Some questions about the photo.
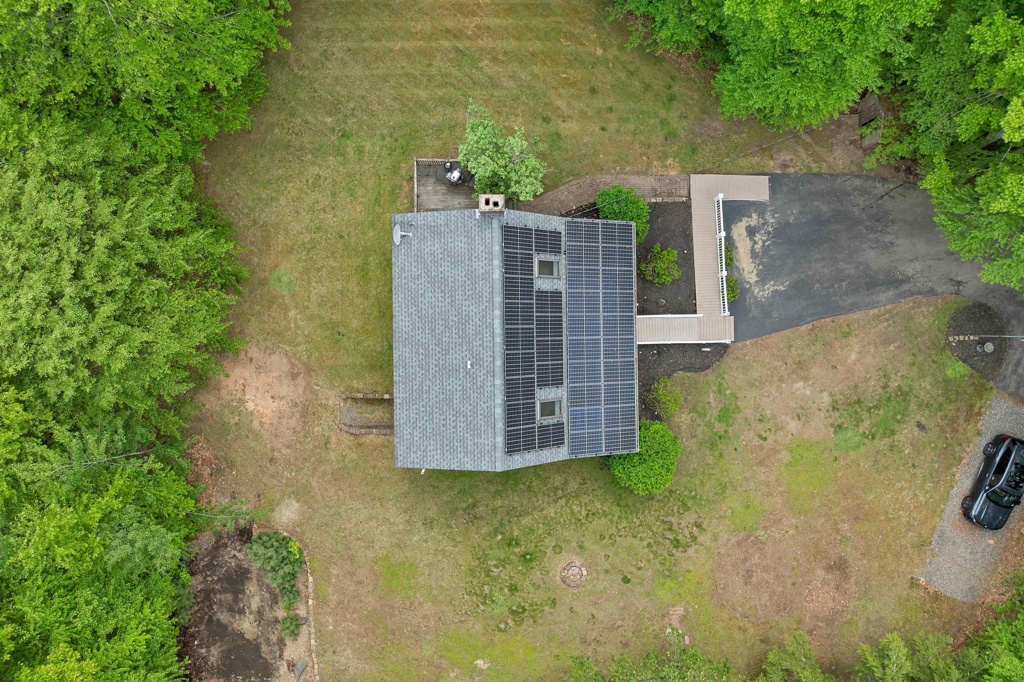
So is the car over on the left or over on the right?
right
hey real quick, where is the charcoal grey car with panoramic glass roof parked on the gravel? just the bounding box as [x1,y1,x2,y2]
[961,434,1024,532]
